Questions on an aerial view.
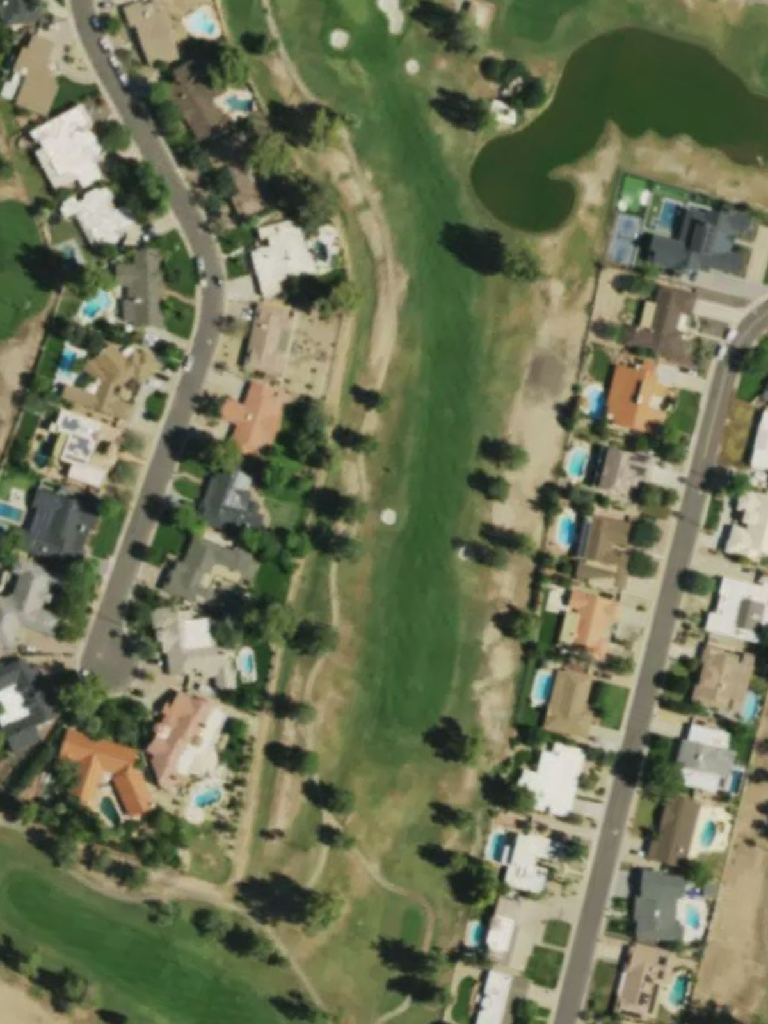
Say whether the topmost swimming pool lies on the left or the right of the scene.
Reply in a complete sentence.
The topmost swimming pool appears in the left half of the scene.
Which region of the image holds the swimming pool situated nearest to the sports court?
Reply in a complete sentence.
The swimming pool situated nearest to the sports court sits in the top right section of the image.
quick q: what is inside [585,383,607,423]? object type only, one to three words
swimming pool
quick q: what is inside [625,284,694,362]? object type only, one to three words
house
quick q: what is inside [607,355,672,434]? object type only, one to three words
house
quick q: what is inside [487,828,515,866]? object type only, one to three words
swimming pool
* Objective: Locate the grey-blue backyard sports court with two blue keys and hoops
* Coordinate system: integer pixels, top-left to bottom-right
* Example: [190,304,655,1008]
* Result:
[608,214,642,264]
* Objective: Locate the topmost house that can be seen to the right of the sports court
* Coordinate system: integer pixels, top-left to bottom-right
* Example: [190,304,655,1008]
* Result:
[648,207,757,274]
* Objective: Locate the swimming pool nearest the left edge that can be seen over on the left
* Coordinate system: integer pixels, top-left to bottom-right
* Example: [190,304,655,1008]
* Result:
[0,488,26,523]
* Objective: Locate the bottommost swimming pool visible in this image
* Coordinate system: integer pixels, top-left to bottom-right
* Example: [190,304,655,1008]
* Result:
[665,970,692,1013]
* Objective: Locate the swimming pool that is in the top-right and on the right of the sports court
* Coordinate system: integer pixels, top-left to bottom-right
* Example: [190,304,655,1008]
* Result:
[657,197,686,234]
